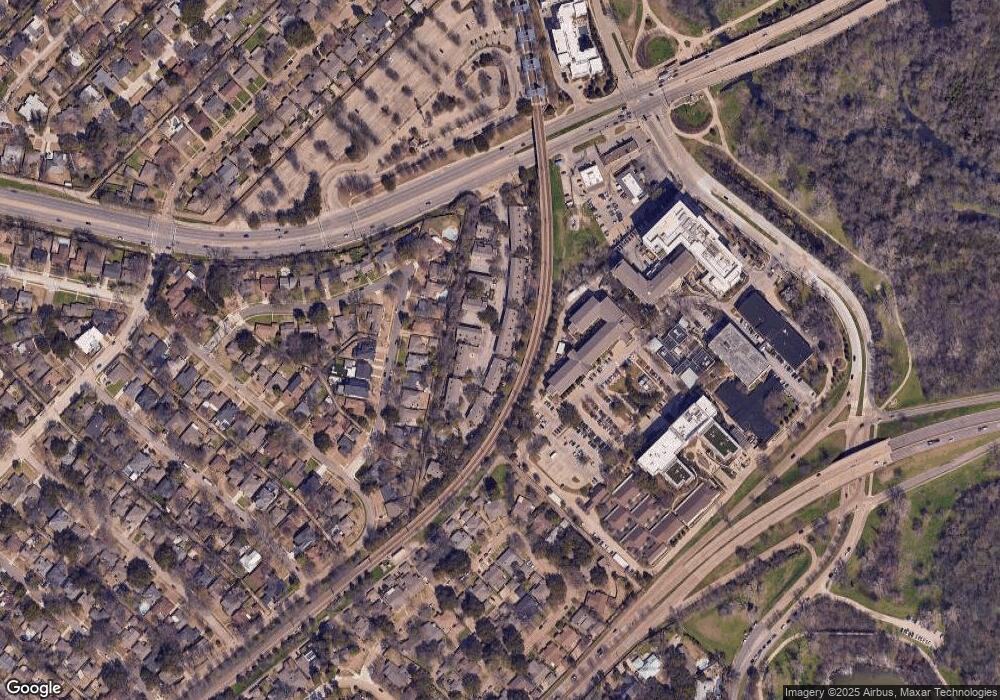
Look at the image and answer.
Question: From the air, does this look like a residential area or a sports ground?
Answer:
residential area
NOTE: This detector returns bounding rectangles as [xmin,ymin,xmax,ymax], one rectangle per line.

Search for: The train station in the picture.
[495,0,550,104]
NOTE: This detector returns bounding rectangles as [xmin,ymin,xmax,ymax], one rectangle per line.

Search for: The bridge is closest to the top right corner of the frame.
[653,0,907,110]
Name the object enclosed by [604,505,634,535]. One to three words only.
building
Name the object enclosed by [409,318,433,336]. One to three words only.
house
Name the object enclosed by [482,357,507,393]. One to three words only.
building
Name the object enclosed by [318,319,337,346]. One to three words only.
house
